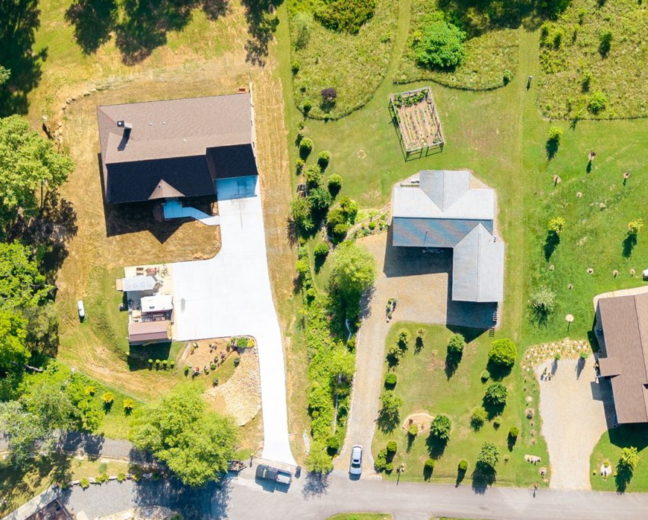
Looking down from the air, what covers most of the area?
grass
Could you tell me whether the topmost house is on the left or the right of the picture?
left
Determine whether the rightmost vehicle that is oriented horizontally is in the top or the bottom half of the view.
bottom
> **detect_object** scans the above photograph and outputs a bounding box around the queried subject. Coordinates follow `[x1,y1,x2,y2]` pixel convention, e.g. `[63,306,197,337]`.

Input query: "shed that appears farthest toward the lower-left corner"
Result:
[129,320,173,342]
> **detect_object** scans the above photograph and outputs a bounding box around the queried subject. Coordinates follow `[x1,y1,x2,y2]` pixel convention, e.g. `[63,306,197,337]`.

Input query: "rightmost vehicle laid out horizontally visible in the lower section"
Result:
[254,468,291,487]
